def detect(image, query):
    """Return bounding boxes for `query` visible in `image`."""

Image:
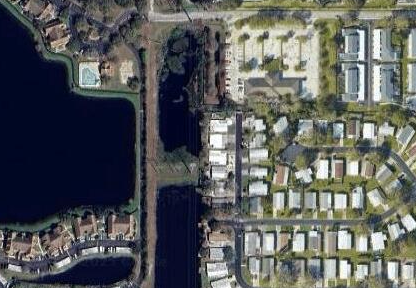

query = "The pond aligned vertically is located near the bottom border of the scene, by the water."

[155,185,203,288]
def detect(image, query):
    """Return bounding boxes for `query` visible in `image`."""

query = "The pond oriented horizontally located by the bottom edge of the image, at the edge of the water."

[16,256,134,285]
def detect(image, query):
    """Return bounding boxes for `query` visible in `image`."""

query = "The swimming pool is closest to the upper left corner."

[79,62,101,87]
